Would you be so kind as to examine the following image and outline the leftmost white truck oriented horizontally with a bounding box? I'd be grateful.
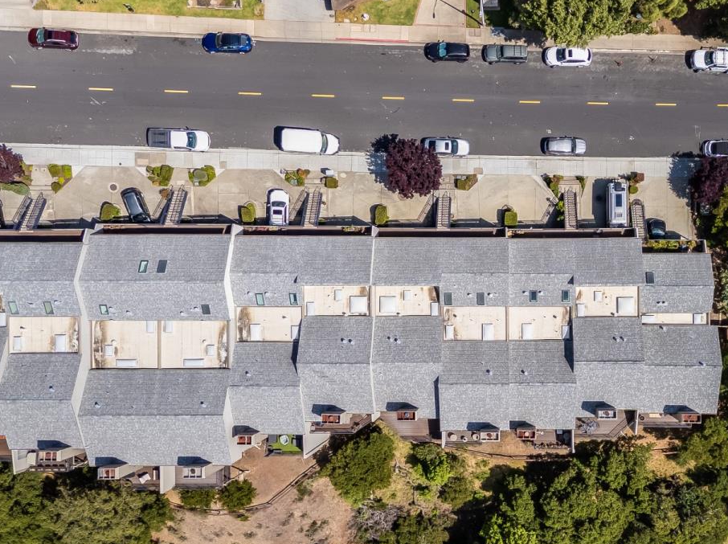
[146,126,214,153]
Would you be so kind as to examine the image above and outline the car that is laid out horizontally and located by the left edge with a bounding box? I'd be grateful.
[26,24,84,53]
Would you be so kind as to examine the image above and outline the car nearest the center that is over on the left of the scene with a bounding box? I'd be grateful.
[266,183,291,226]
